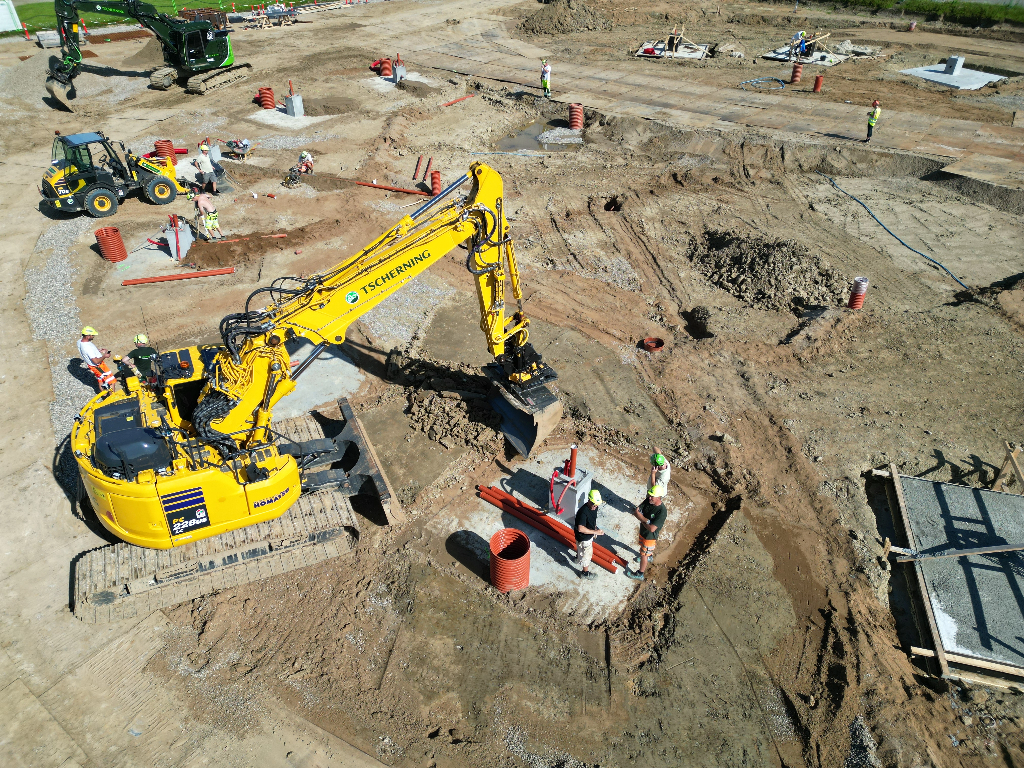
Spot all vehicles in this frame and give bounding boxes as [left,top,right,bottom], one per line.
[46,0,255,108]
[30,124,227,223]
[66,158,568,616]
